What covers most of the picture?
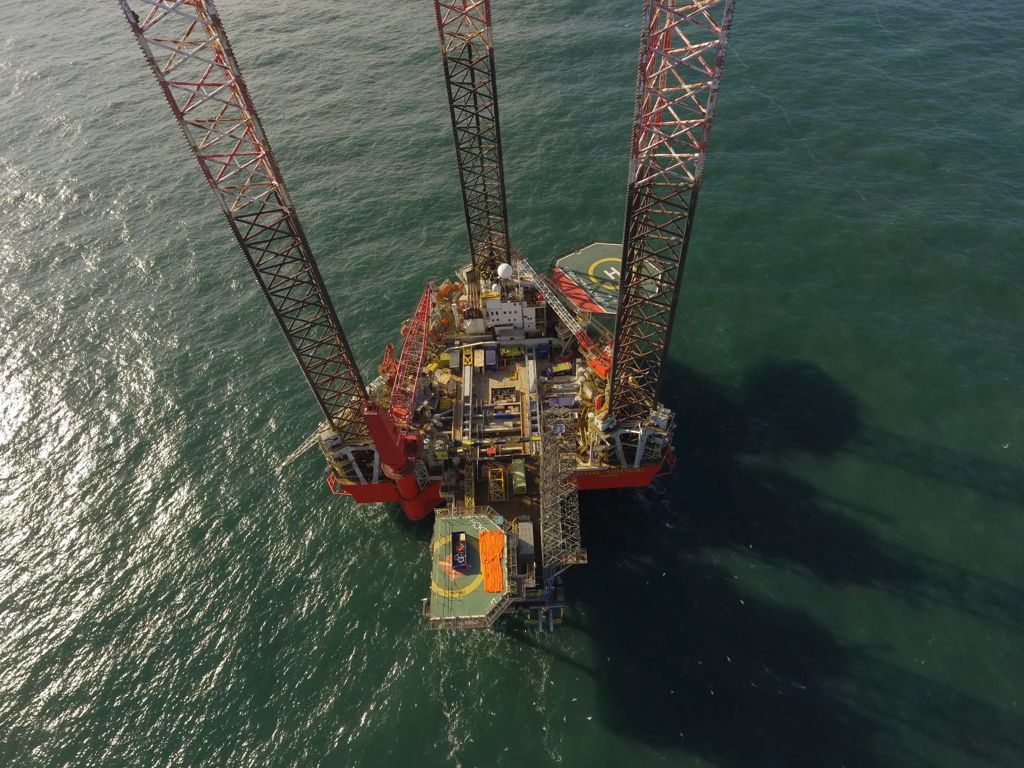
water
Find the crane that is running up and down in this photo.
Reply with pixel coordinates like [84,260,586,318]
[368,283,437,507]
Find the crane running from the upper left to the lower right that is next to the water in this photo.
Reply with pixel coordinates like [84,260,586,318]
[502,239,627,384]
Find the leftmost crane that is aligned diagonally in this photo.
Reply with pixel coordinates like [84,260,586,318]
[278,338,410,472]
